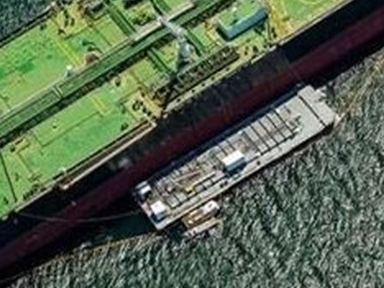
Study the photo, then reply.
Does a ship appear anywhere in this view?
Yes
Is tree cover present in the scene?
No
